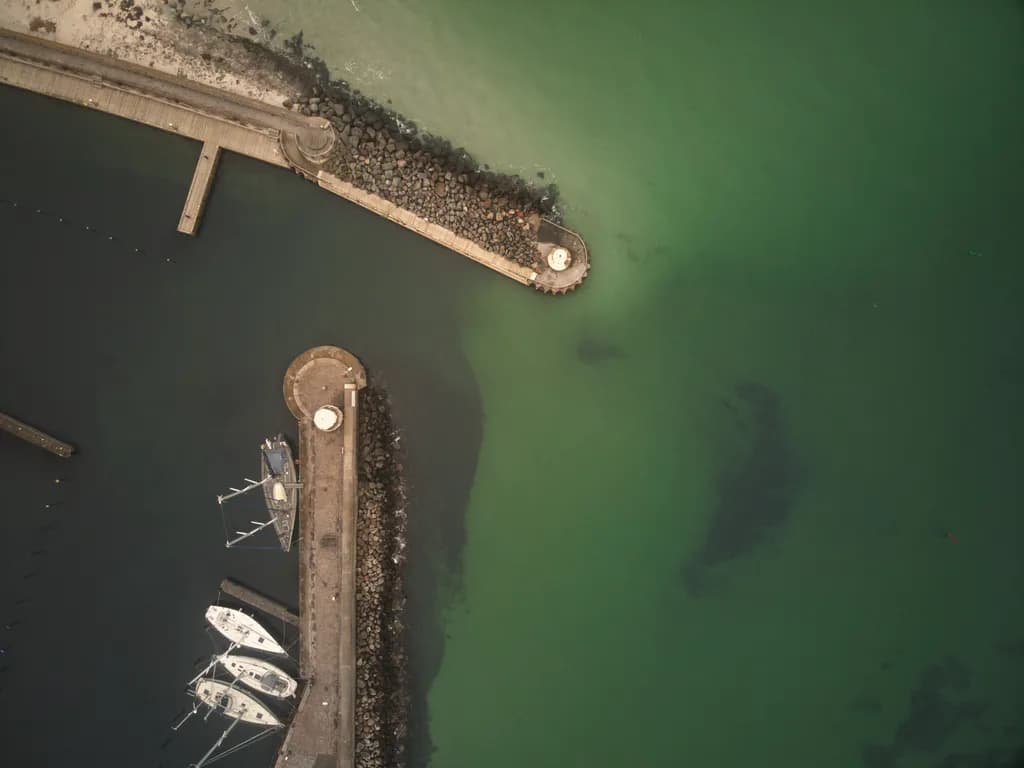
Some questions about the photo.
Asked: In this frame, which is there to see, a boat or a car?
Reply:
boat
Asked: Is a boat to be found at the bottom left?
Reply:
Yes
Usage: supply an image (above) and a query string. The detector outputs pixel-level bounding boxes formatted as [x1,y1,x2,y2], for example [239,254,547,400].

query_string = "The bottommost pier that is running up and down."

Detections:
[275,345,370,768]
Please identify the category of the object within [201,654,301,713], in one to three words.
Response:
boat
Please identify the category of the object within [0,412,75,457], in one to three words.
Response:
pier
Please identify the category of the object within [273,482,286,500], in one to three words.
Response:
boat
